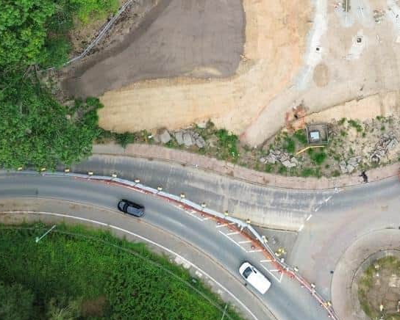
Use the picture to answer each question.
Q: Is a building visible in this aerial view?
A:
No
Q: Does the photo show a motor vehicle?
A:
Yes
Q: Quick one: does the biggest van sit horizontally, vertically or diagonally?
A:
diagonally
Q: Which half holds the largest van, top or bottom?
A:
bottom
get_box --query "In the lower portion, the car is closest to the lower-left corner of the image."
[115,200,145,219]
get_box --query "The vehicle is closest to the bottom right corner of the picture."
[238,263,272,299]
